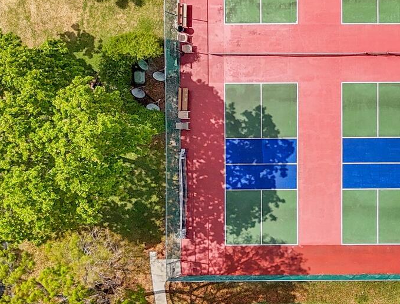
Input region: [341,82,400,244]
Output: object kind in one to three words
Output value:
sports court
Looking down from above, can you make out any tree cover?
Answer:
Yes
